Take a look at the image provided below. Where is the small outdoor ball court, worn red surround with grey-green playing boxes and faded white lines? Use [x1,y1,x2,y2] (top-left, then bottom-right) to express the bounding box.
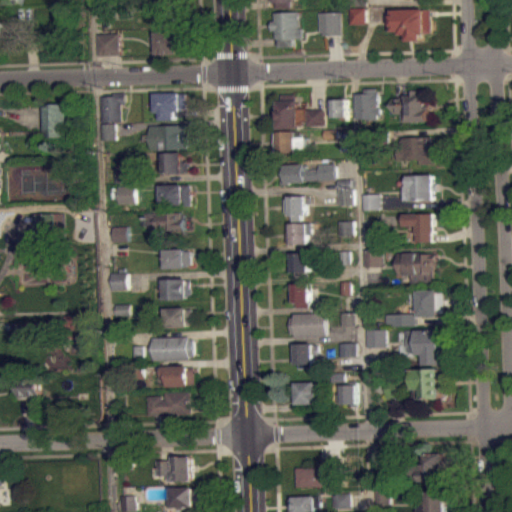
[8,167,65,202]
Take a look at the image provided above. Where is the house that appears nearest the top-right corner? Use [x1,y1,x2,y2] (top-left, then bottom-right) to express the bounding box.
[386,9,436,42]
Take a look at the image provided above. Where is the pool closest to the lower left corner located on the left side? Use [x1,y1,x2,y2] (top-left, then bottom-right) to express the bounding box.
[147,488,166,501]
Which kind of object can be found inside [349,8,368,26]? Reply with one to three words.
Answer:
building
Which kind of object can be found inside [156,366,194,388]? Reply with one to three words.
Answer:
house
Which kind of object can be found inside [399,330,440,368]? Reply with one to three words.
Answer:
house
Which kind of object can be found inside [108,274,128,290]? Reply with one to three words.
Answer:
building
